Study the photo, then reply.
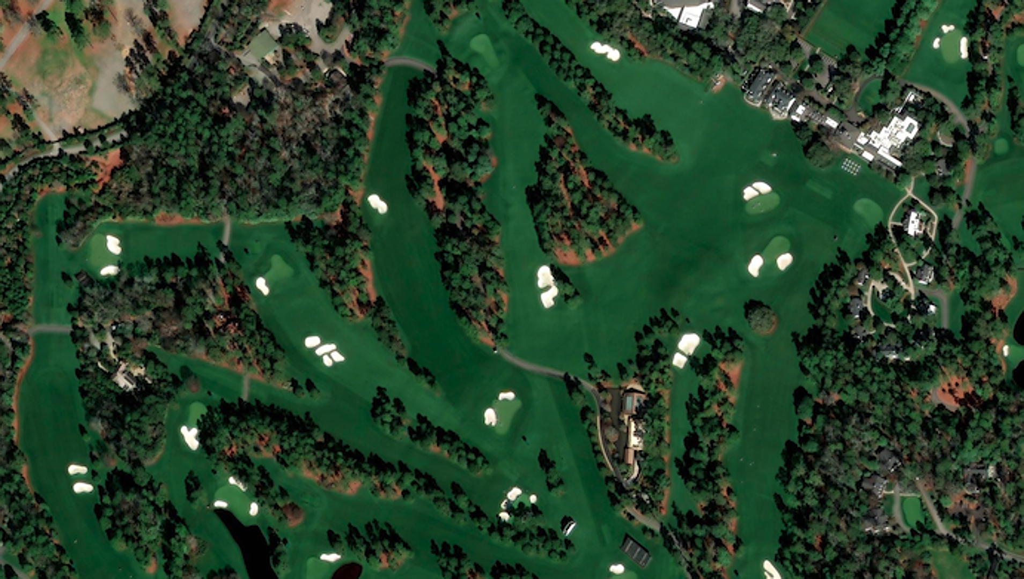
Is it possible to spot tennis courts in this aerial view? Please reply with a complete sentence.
No, the photo shows no tennis court.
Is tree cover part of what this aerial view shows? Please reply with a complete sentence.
Yes, there's tree cover in this view.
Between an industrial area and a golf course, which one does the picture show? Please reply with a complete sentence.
It's a golf course.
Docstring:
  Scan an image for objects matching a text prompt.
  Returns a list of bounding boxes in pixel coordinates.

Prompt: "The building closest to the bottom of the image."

[864,509,889,533]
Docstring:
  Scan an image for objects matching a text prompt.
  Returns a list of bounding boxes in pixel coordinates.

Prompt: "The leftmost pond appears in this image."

[214,508,281,579]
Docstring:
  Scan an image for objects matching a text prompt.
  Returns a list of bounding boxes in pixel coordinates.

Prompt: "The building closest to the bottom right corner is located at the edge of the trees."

[964,466,996,492]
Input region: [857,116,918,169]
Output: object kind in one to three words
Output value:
building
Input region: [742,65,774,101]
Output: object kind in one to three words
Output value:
building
